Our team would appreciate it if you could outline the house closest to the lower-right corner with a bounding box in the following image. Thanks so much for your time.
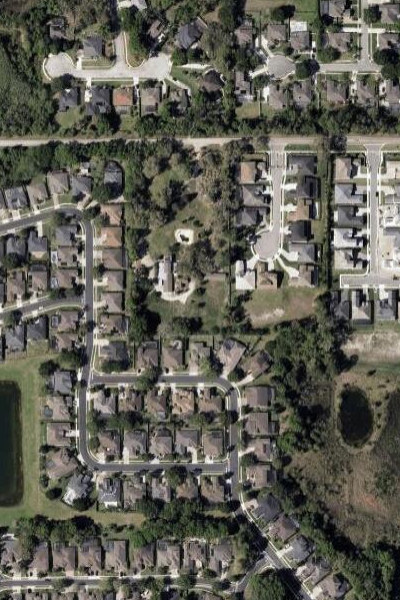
[317,574,347,600]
